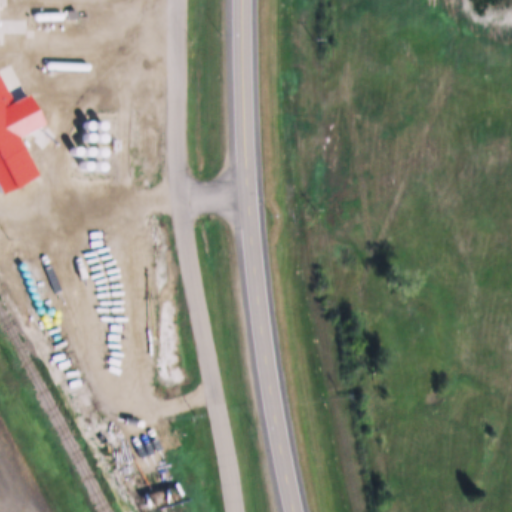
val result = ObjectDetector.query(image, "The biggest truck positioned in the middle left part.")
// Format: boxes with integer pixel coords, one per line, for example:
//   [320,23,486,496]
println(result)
[40,252,61,298]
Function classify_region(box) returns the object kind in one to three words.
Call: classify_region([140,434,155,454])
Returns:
vehicle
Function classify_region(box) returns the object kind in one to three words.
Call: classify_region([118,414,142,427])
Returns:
vehicle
